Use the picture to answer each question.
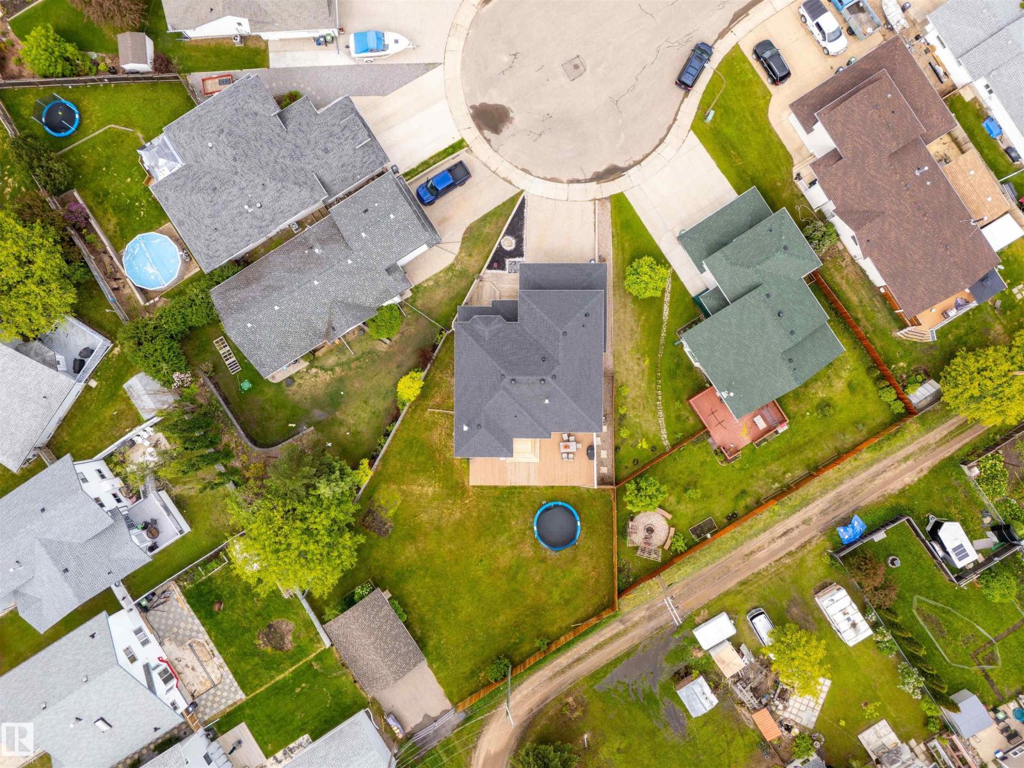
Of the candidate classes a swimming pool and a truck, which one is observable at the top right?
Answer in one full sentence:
Visible at the top right is a truck.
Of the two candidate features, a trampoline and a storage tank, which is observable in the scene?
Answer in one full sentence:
Visible in the photo is a trampoline.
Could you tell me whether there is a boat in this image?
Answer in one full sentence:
Yes, looking at the shot, I can spot a boat.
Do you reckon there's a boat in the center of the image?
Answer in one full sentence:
No, the scene shows no boat in the center of the image.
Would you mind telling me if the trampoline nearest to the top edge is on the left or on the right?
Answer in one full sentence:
The trampoline nearest to the top edge sits on the left side.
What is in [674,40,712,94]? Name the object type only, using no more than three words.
car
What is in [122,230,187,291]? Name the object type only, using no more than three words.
swimming pool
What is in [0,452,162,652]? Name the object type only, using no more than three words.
house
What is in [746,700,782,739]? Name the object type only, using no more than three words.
shed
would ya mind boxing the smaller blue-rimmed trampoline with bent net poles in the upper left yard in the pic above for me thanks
[27,89,85,139]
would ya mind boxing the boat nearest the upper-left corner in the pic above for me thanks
[344,31,422,64]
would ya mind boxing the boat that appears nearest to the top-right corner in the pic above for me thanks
[879,0,910,36]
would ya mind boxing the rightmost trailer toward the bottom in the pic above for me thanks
[924,515,979,569]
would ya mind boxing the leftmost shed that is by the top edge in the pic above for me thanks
[117,29,158,71]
